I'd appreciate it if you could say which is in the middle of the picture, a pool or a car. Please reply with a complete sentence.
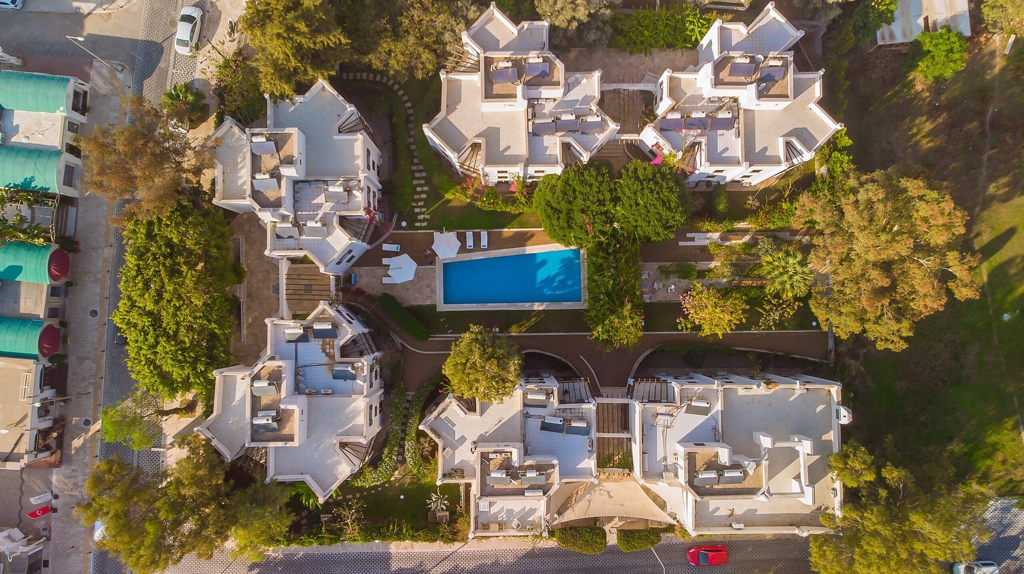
It is a pool that can be seen in the middle of the picture.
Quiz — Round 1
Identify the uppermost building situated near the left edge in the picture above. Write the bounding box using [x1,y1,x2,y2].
[0,71,92,123]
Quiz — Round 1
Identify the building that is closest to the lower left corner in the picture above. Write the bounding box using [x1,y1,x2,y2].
[0,354,63,464]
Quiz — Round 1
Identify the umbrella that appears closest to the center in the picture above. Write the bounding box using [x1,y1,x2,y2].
[432,225,462,260]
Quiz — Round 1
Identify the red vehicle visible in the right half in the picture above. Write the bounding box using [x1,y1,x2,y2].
[688,546,731,571]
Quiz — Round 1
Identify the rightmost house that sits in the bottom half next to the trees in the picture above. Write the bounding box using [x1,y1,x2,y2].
[622,363,855,537]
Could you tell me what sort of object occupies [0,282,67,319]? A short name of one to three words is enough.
building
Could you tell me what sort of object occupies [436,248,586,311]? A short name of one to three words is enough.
swimming pool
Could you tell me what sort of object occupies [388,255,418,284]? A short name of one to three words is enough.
umbrella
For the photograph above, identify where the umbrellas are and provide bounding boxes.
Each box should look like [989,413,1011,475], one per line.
[432,225,462,260]
[388,255,418,284]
